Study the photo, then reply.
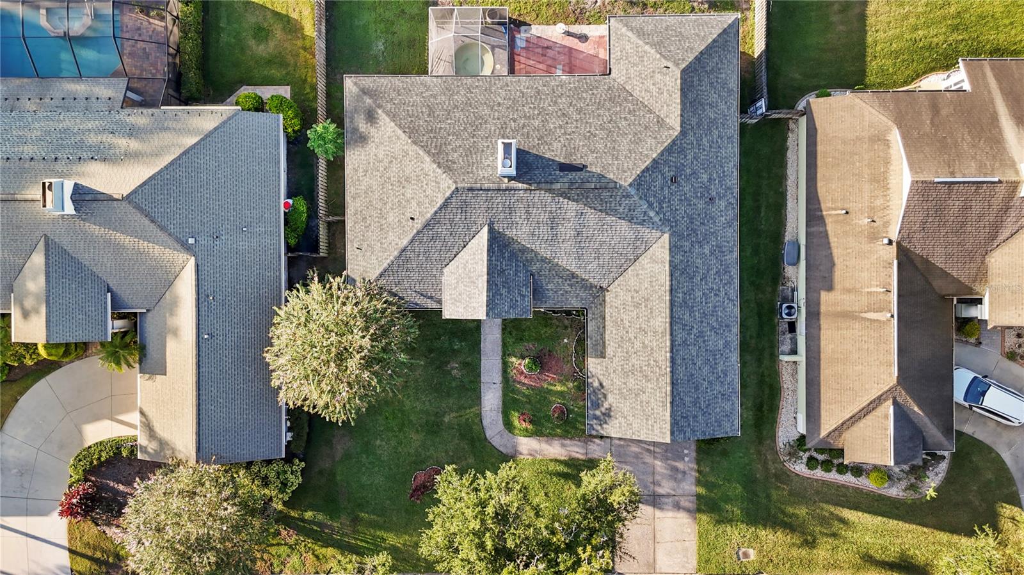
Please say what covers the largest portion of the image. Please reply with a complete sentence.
For the most part, this view shows buildings.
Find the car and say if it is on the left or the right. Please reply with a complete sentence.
The car is on the right side of the image.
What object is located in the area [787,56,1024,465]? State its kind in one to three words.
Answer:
house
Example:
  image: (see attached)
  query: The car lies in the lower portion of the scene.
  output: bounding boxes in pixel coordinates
[956,374,1024,429]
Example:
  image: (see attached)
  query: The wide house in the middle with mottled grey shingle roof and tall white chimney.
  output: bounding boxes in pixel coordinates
[342,13,742,445]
